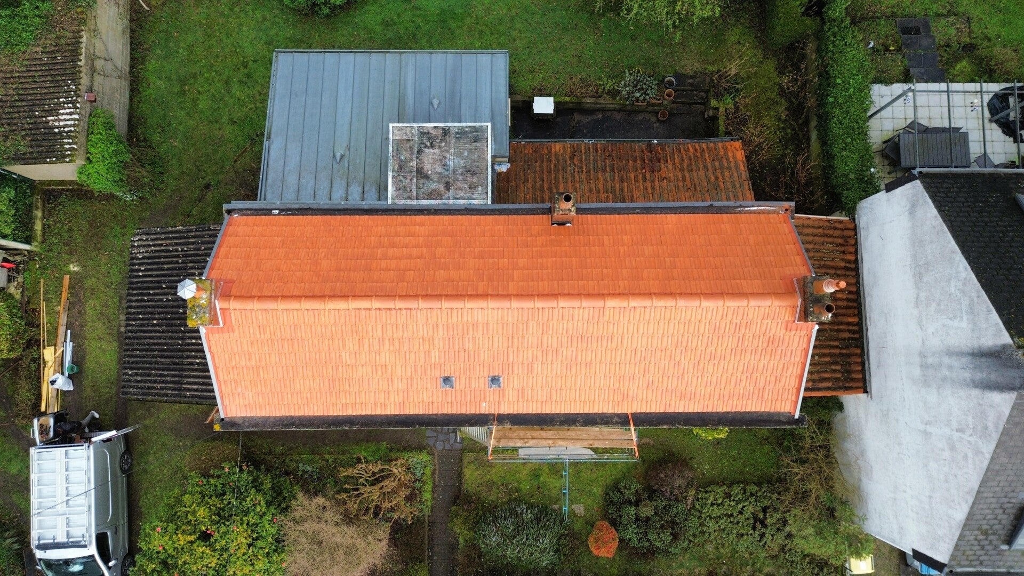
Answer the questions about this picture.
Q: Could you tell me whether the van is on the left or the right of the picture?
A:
left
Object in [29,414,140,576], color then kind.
white van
